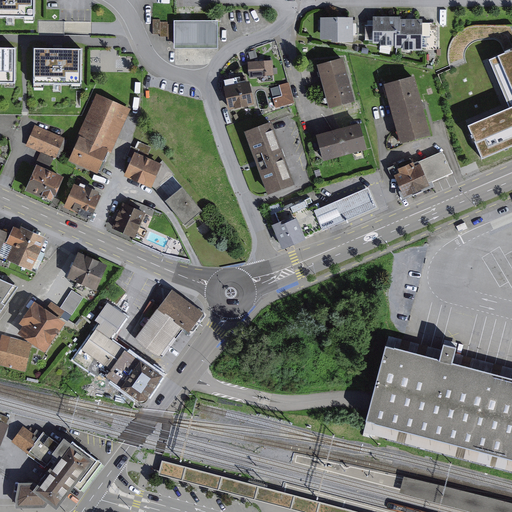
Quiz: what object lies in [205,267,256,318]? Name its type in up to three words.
roundabout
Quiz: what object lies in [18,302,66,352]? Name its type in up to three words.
house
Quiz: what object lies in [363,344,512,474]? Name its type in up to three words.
warehouse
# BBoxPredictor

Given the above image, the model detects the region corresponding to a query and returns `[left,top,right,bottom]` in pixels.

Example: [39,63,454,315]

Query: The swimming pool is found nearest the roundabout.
[146,231,168,248]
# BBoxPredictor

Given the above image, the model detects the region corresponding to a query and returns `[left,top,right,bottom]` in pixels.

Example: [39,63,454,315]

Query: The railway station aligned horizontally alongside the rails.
[283,453,403,512]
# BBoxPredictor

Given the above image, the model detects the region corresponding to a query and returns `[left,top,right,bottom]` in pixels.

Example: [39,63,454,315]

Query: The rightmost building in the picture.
[467,48,512,158]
